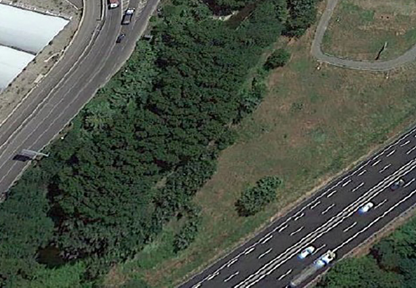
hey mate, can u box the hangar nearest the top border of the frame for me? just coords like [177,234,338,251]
[0,3,72,61]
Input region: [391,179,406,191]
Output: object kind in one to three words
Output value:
vehicle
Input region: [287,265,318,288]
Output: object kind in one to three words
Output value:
truck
